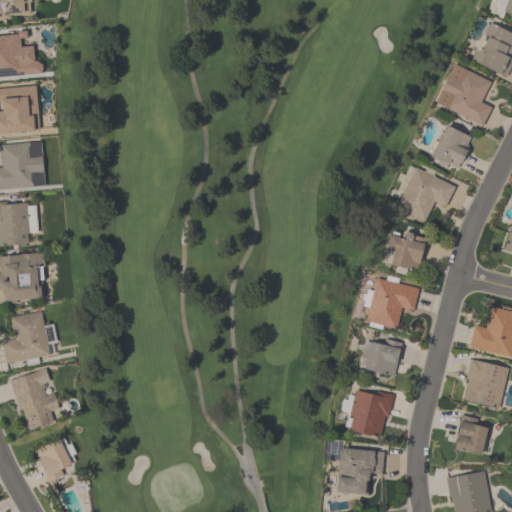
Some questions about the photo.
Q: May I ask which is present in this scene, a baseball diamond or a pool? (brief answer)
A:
pool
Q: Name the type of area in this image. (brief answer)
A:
golf course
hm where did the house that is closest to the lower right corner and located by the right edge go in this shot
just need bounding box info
[448,472,494,512]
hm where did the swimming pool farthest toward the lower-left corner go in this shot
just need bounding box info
[61,490,82,512]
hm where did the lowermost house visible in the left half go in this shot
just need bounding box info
[38,440,76,483]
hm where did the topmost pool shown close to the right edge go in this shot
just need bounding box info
[471,21,488,40]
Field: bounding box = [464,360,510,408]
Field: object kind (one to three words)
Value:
house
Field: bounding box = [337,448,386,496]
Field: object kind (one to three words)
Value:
house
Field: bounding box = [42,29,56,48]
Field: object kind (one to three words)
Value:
swimming pool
